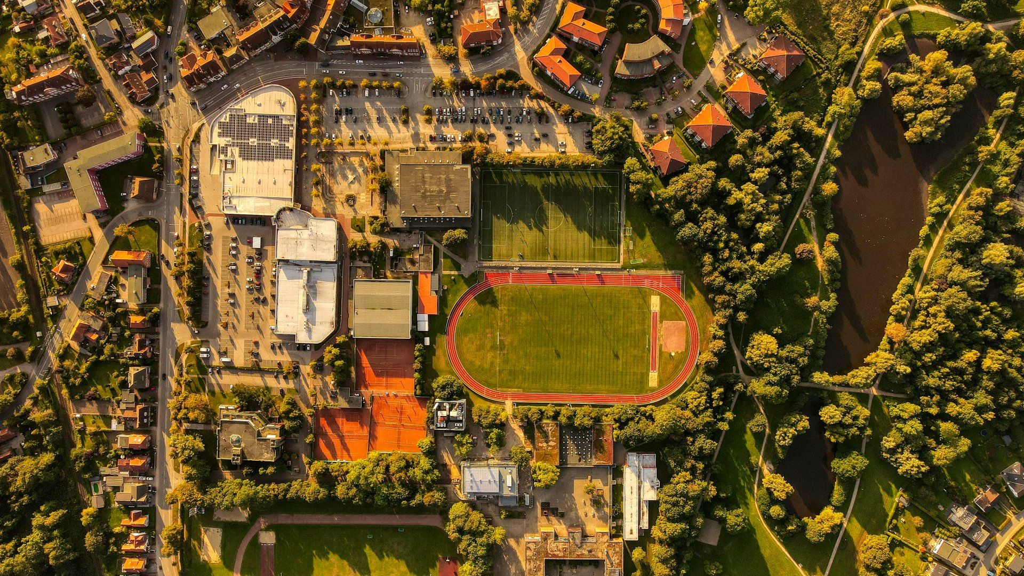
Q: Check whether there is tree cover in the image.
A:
Yes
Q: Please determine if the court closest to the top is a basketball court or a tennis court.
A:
tennis court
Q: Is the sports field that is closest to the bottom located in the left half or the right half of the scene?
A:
left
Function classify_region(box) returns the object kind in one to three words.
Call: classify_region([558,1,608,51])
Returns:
building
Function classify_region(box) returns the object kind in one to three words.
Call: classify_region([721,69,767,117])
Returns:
building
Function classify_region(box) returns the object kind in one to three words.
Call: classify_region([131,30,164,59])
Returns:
house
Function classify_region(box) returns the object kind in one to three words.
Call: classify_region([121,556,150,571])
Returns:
house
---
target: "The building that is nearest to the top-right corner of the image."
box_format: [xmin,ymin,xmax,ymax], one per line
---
[755,35,805,83]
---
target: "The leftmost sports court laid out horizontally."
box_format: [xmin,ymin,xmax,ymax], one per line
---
[213,508,249,522]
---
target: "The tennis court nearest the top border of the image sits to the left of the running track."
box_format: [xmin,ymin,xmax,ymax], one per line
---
[355,338,414,395]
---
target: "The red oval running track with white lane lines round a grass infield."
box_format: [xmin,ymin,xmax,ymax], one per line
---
[447,269,699,404]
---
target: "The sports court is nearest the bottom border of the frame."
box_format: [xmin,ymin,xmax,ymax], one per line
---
[200,527,222,563]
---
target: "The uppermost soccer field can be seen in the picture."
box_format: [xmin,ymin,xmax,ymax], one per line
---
[476,168,623,270]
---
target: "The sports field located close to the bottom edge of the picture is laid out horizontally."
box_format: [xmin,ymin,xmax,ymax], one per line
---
[232,514,465,576]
